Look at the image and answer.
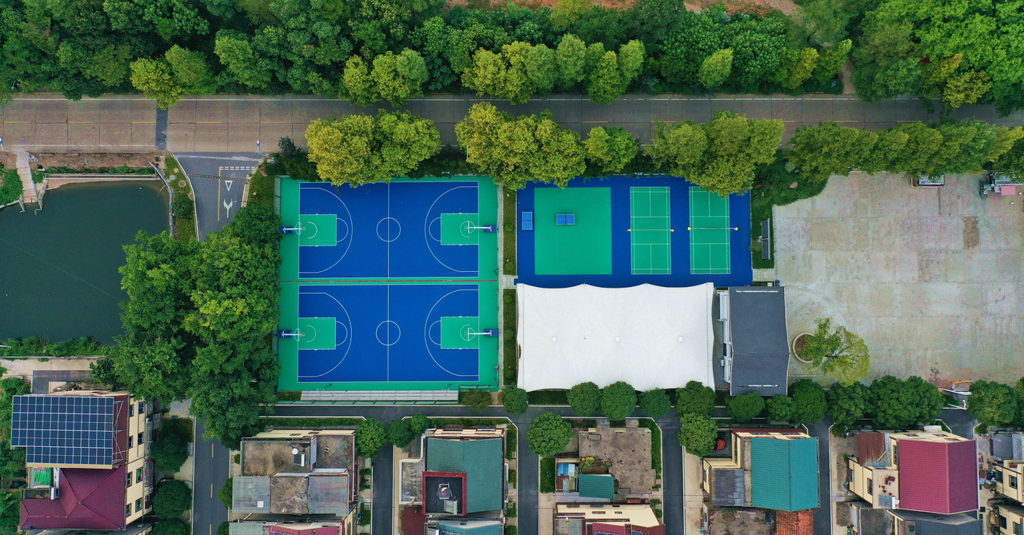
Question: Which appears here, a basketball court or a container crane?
basketball court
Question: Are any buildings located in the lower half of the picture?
Yes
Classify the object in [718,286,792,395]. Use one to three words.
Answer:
building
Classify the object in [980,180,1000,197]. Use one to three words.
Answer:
work vehicle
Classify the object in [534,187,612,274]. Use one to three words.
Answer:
sports court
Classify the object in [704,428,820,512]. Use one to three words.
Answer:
house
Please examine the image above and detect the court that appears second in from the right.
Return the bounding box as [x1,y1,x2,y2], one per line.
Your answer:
[631,187,671,274]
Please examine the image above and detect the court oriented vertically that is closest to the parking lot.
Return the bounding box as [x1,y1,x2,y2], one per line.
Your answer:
[690,187,730,274]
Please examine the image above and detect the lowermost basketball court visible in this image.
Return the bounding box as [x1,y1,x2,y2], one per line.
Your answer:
[277,281,498,391]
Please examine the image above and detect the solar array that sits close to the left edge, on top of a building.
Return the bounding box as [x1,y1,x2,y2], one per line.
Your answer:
[10,397,128,464]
